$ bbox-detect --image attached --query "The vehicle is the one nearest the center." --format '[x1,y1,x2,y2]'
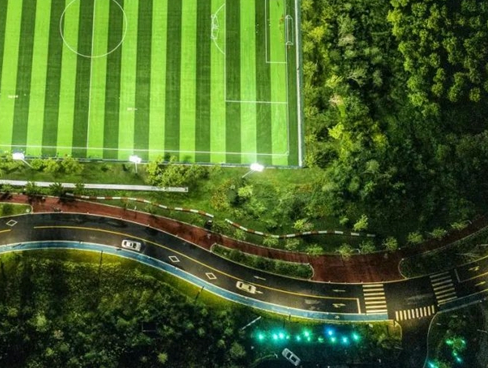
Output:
[237,281,257,294]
